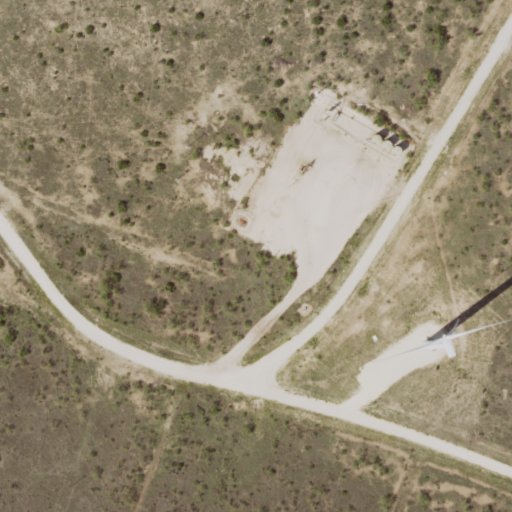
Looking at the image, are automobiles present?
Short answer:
No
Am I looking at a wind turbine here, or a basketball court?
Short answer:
wind turbine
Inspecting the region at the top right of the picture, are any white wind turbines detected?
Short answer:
No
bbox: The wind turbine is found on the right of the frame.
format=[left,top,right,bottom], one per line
[367,317,508,364]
